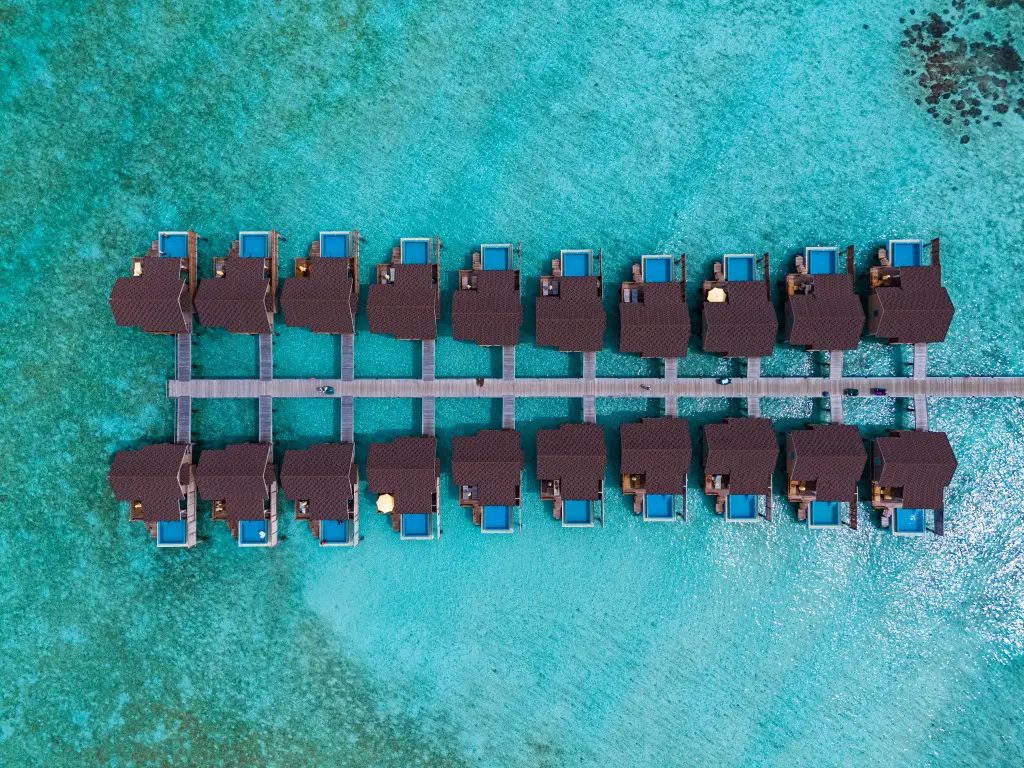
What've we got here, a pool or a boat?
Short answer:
pool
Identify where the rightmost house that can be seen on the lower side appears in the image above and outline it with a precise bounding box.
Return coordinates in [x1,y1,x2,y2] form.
[864,433,957,538]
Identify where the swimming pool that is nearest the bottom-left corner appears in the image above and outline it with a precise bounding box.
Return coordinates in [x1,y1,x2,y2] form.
[157,518,187,547]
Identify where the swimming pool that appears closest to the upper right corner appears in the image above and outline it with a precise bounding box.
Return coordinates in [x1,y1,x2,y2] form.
[885,240,921,269]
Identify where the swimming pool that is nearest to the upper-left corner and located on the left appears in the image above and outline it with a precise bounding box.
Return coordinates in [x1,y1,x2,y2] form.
[159,232,188,260]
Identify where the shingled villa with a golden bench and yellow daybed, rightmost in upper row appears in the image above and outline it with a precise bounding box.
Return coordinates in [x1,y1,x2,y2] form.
[861,237,954,342]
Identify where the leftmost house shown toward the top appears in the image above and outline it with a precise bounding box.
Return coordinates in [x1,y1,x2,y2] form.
[108,228,208,334]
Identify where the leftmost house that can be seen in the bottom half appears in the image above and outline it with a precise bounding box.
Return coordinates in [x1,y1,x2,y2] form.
[107,444,206,550]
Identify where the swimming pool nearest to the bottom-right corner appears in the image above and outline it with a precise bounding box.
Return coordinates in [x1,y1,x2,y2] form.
[888,507,924,536]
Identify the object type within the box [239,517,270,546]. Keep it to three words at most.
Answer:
swimming pool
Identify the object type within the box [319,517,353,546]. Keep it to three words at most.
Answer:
swimming pool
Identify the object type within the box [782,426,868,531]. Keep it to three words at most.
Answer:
house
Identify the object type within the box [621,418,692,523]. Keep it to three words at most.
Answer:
house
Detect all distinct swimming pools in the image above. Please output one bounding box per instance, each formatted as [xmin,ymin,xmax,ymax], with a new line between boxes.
[642,492,675,521]
[157,518,187,547]
[885,240,921,269]
[159,232,188,260]
[319,517,353,546]
[239,231,271,260]
[320,231,353,260]
[481,244,513,271]
[802,247,838,276]
[723,493,758,522]
[481,506,513,533]
[562,500,594,527]
[561,250,593,277]
[401,511,434,540]
[401,238,434,267]
[805,500,841,528]
[888,507,924,536]
[722,254,756,283]
[640,255,673,284]
[239,517,270,546]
